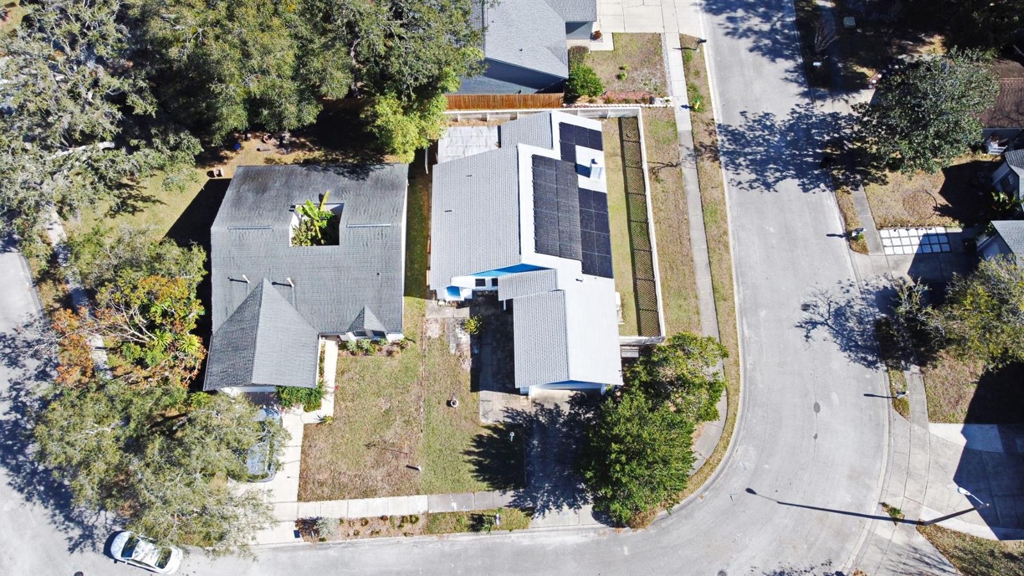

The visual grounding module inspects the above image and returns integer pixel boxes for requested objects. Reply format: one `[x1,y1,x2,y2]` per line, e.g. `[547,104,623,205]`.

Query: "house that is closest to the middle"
[429,107,621,393]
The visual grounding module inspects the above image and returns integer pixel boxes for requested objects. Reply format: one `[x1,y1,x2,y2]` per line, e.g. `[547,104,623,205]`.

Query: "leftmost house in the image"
[206,161,410,398]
